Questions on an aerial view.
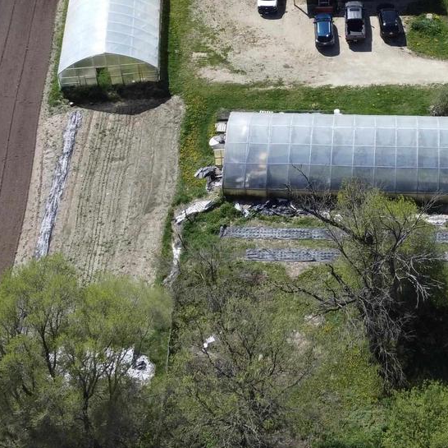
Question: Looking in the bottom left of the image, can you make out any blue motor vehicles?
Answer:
No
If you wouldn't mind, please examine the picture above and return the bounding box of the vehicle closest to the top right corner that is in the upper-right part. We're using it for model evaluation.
[375,3,399,33]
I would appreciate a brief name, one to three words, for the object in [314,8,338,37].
car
